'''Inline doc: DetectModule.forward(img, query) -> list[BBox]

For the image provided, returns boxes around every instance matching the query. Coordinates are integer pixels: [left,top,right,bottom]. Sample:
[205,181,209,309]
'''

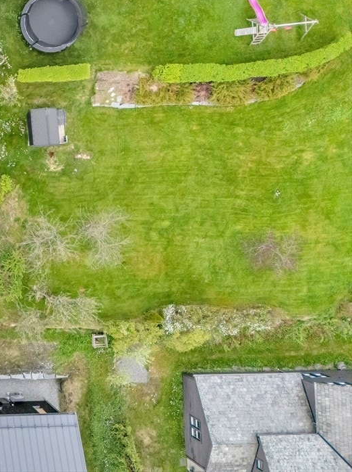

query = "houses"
[0,400,87,472]
[181,367,352,472]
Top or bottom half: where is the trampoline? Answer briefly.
top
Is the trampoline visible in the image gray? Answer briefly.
Yes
